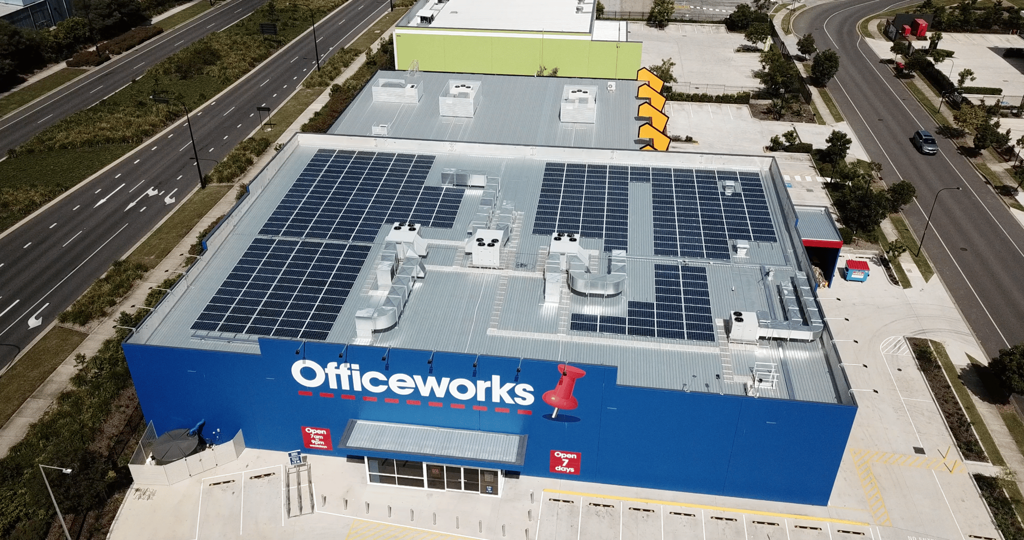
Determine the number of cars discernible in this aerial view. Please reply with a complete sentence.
The picture shows just 1 car.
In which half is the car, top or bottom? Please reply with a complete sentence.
The car is in the top half of the image.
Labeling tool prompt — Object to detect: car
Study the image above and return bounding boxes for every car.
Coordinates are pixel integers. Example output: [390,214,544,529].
[914,129,939,152]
